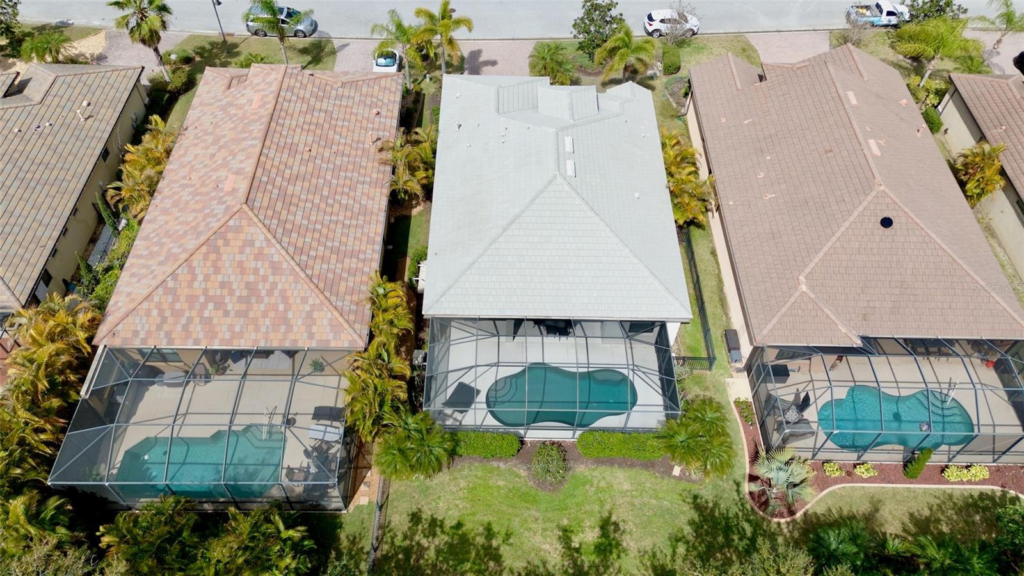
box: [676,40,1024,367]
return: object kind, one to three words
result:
house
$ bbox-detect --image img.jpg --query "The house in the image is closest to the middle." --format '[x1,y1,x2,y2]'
[420,73,693,345]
